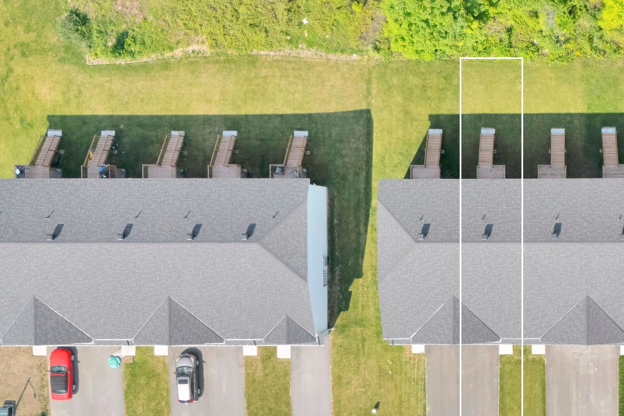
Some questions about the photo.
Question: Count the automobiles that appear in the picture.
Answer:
2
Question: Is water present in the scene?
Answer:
No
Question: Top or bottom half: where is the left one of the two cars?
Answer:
bottom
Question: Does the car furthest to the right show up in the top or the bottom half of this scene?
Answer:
bottom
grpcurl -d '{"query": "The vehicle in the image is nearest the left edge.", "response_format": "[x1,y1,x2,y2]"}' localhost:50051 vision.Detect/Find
[47,348,75,402]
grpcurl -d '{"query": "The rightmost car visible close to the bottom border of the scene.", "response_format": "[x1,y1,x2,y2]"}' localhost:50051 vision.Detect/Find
[173,353,200,404]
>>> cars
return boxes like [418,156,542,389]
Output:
[173,353,200,404]
[47,348,75,402]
